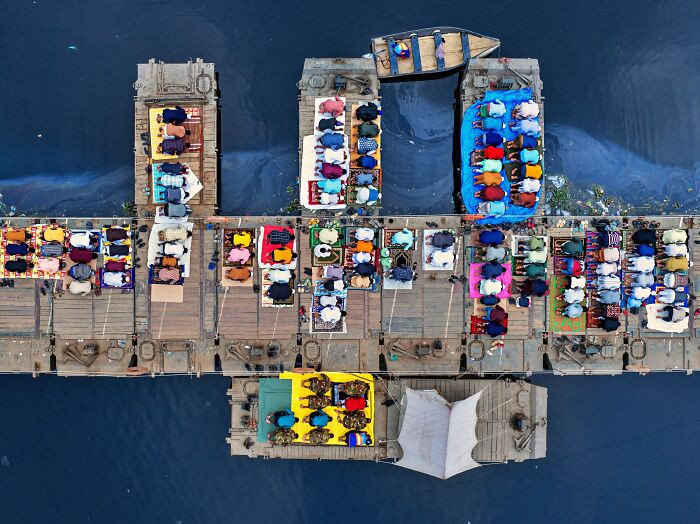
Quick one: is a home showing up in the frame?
No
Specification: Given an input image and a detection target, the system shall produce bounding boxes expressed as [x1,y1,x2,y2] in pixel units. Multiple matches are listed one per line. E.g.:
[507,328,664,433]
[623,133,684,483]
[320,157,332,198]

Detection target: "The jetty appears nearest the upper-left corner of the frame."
[130,57,222,217]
